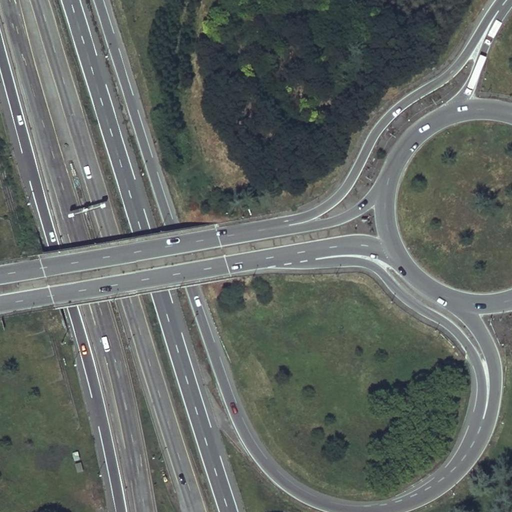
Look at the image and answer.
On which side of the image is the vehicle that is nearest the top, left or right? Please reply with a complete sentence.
The vehicle that is nearest the top is on the right side of the image.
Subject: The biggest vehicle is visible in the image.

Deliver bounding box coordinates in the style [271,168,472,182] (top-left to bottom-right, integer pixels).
[464,54,487,96]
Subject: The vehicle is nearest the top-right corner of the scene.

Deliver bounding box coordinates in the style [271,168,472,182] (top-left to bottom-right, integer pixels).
[484,18,504,46]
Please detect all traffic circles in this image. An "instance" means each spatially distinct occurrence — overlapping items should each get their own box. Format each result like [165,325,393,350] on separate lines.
[374,98,512,318]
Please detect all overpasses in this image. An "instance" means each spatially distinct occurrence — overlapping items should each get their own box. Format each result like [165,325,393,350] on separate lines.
[36,225,232,331]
